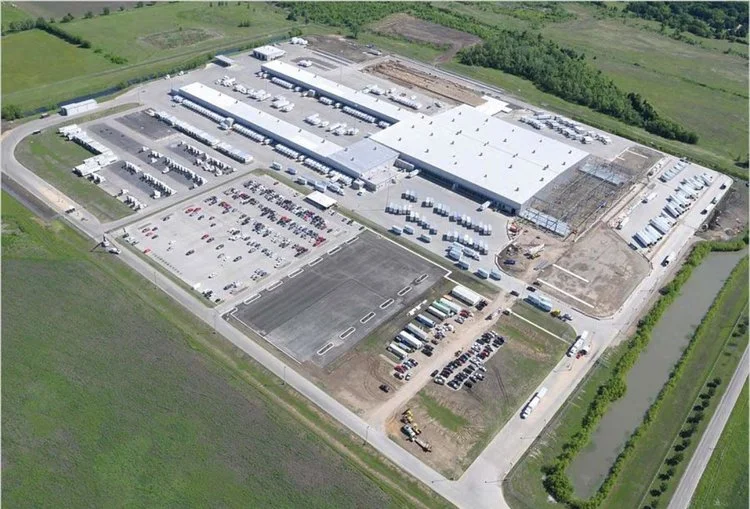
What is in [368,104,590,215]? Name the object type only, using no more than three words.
building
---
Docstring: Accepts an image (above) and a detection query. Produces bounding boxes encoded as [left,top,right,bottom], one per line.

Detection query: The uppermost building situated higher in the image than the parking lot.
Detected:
[253,46,286,62]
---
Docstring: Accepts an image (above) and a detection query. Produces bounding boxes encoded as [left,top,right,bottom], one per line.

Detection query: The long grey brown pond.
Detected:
[568,245,750,498]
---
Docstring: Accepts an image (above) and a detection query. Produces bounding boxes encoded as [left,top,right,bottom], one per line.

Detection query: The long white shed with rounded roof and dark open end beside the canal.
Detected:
[62,101,100,117]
